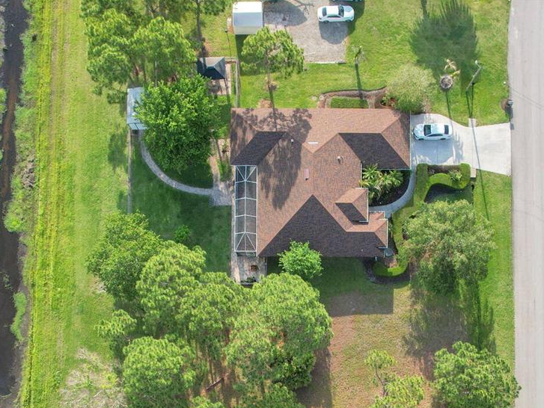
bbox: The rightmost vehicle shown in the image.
[413,123,450,140]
